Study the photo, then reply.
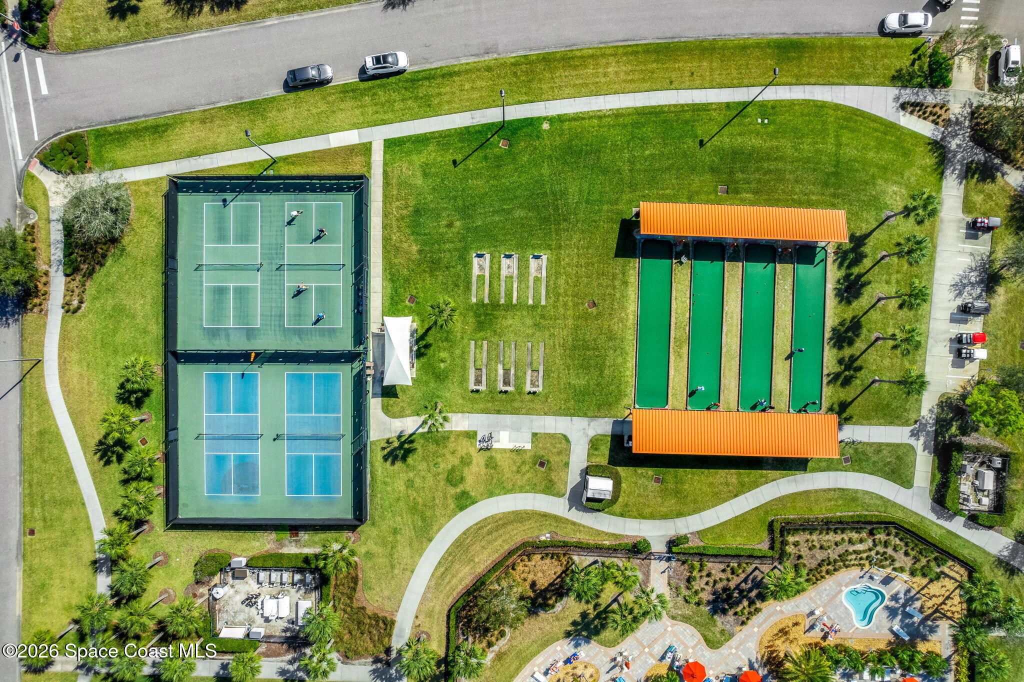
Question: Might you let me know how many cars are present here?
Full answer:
There are 4 cars in the image.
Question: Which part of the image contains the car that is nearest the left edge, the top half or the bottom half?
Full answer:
The car that is nearest the left edge is in the top half of the image.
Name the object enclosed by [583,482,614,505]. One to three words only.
shed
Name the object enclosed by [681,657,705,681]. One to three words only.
umbrella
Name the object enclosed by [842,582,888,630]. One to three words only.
swimming pool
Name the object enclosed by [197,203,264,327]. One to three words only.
sports court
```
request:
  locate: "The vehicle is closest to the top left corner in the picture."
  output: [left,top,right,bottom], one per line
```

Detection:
[287,64,333,88]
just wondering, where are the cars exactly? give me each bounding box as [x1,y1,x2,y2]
[884,12,930,35]
[287,64,333,88]
[364,51,409,77]
[995,42,1022,87]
